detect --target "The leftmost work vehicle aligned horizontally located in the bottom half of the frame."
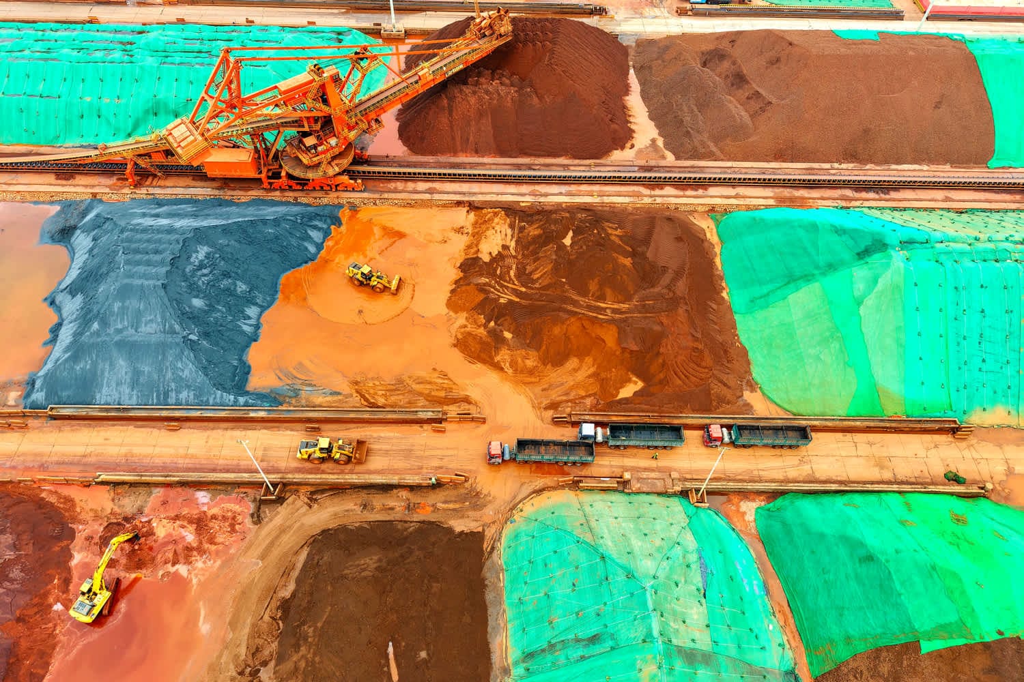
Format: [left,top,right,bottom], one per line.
[294,439,368,466]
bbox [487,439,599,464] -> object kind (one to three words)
truck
